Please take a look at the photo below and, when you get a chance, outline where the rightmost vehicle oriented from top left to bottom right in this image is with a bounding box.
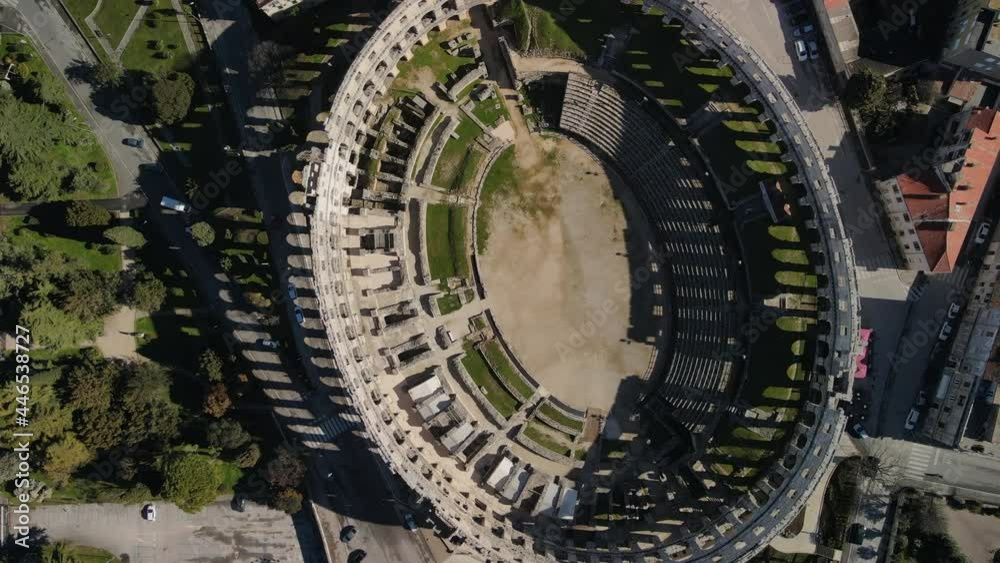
[851,422,869,439]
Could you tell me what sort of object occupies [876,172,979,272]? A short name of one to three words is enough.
house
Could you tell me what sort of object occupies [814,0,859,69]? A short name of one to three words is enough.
house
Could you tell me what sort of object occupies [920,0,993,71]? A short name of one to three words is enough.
building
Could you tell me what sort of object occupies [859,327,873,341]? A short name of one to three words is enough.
umbrella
